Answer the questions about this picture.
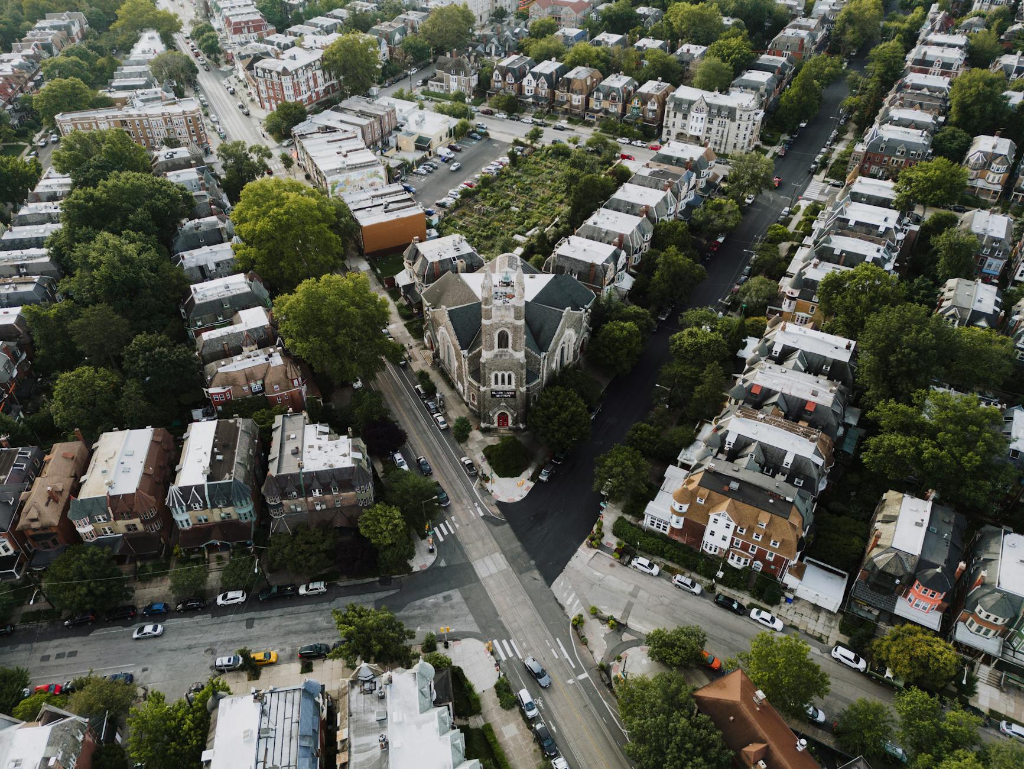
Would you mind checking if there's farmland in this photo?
No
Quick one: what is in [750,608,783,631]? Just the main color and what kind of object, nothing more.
white car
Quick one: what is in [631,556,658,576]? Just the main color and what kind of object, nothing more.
white car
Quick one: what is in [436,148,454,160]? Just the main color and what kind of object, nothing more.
white vehicle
